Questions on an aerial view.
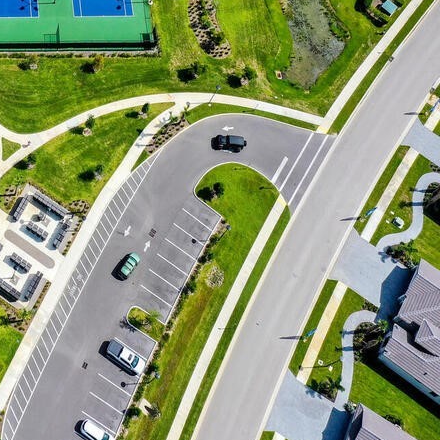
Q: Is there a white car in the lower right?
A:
No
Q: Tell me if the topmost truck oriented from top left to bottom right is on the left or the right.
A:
left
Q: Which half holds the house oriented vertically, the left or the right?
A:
right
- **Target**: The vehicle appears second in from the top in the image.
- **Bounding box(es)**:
[120,250,140,277]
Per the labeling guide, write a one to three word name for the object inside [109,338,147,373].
truck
